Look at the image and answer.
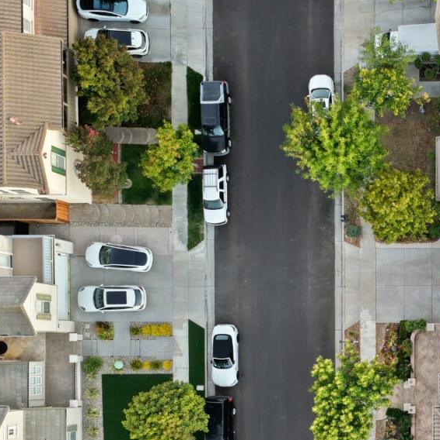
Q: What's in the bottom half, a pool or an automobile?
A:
automobile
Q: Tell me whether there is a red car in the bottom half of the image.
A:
No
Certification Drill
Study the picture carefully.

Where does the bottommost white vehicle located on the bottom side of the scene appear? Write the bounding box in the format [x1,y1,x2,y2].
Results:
[207,323,241,388]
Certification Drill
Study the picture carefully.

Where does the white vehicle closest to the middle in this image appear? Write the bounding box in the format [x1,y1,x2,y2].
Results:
[197,165,233,227]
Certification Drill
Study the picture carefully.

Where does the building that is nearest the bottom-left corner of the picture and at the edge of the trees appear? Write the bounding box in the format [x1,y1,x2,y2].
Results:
[0,235,95,440]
